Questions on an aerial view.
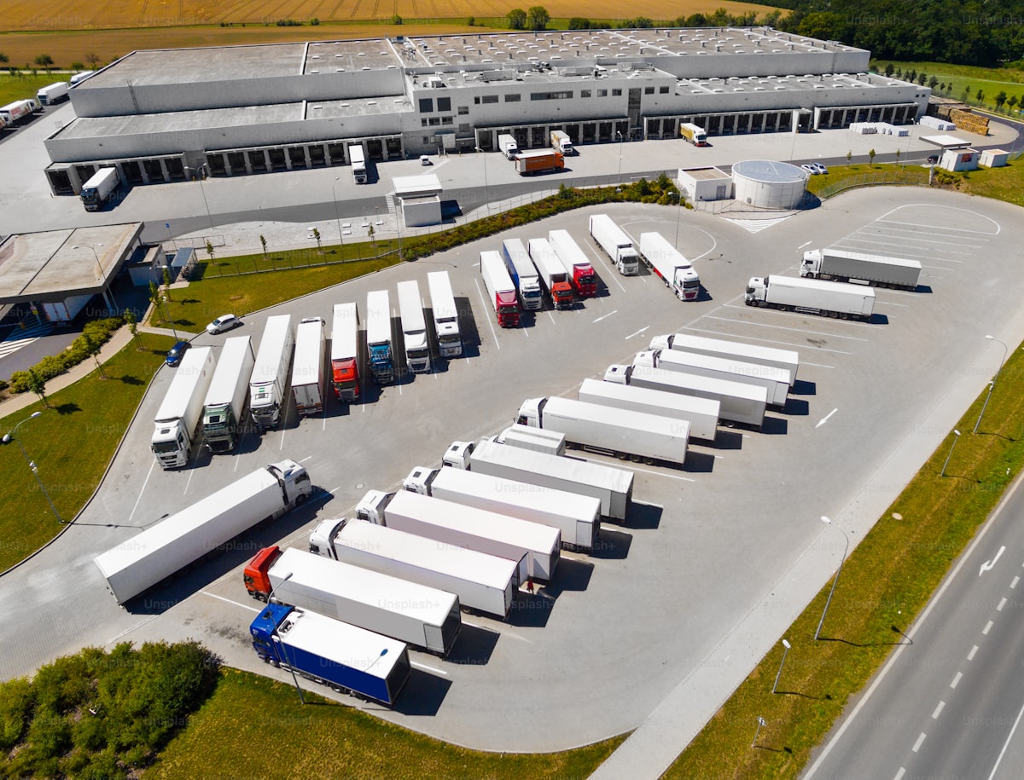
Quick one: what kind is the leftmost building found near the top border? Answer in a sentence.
I'd say the leftmost building found near the top border is a warehouse.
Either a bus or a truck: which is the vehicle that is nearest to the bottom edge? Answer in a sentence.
I'd say the vehicle that is nearest to the bottom edge is a truck.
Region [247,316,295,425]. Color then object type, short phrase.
white truck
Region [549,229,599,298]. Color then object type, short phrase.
white truck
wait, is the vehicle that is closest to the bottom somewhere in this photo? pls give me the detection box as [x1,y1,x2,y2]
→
[241,605,412,709]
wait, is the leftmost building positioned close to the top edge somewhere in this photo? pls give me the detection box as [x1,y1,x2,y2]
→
[41,23,932,196]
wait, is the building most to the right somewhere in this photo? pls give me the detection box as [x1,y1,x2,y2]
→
[979,149,1009,166]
